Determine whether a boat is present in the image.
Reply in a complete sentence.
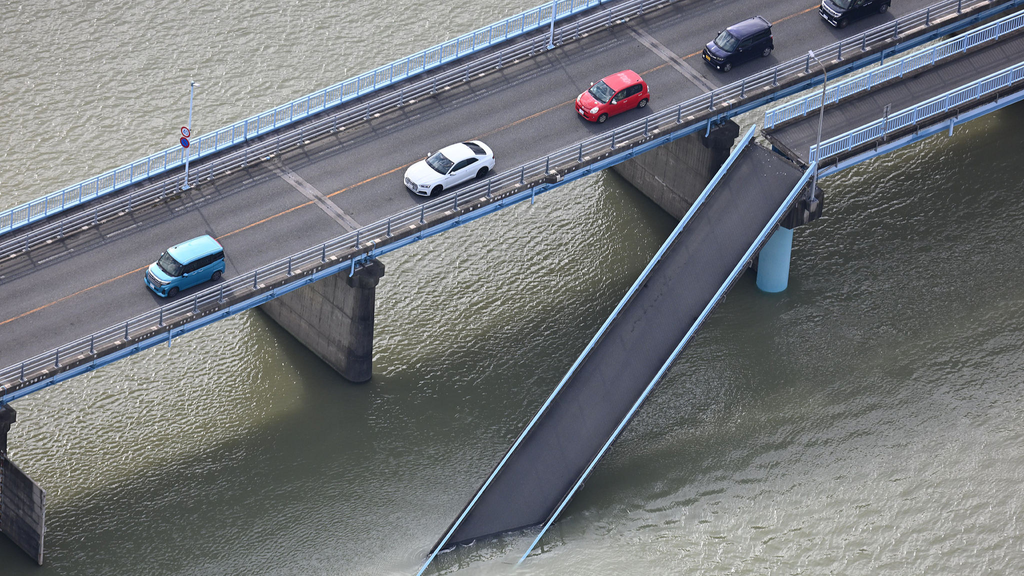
No, the picture doesn't show any boat.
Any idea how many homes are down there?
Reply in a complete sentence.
Not a single home can be seen.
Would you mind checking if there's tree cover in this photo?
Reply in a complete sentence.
No, the scene doesn't show any tree cover.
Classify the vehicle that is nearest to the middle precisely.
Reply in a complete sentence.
The vehicle that is nearest to the middle can be classified as an automobile.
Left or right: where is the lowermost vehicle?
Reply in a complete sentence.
You can find the lowermost vehicle on the left side of the picture.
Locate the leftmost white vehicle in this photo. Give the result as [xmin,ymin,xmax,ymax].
[402,140,498,196]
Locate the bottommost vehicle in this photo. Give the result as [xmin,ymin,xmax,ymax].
[142,235,225,298]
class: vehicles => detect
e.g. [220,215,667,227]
[573,68,651,124]
[142,235,225,298]
[402,140,498,196]
[701,15,773,73]
[818,0,889,28]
